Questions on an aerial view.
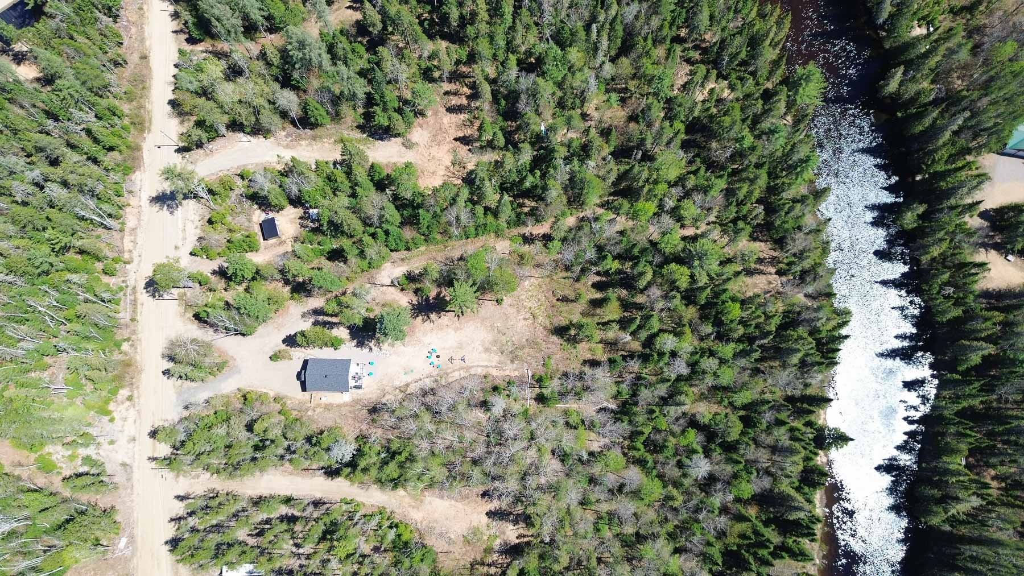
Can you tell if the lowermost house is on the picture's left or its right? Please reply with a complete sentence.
You can find the lowermost house on the left side of the picture.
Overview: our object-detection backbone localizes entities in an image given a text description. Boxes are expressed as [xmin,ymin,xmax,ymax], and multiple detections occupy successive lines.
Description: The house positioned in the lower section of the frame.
[300,358,368,395]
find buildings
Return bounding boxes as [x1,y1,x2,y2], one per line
[996,121,1024,162]
[300,358,368,395]
[262,218,282,245]
[0,0,53,27]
